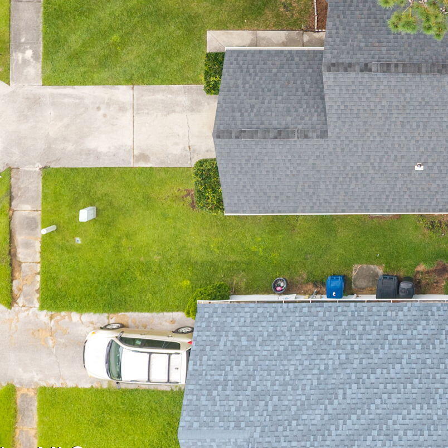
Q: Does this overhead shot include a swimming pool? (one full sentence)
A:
No, there appears to be no swimming pool in this shot.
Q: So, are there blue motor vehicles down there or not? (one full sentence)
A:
No, the frame has no blue motor vehicle in it.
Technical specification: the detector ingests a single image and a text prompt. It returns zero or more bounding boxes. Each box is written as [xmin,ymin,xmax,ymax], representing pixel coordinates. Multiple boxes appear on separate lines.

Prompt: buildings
[212,0,448,216]
[177,289,448,448]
